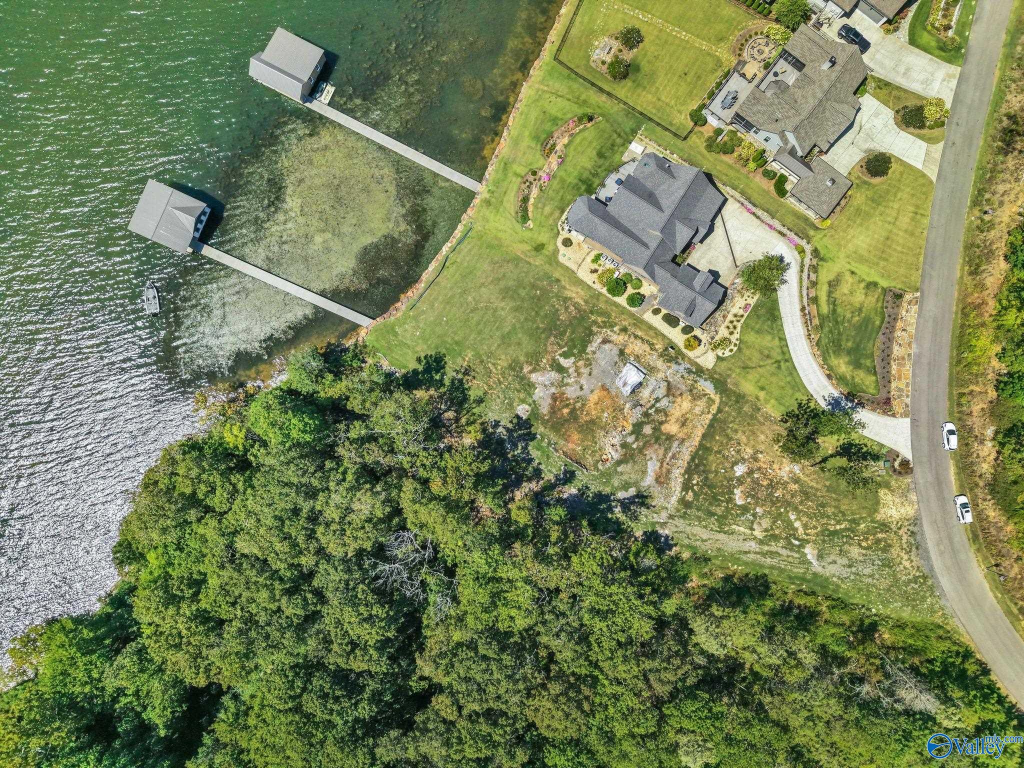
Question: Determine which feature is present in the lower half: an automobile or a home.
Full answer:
What appears in the lower half is an automobile.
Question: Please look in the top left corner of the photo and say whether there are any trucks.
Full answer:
No, no truck appears in the top left corner of the photo.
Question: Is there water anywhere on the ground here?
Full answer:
Yes, some water is visible.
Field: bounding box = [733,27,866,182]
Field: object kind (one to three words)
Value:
house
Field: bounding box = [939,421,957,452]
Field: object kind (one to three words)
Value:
car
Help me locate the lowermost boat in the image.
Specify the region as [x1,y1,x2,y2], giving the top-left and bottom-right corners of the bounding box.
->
[145,281,160,319]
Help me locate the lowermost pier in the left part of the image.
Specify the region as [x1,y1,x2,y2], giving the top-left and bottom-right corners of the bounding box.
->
[200,245,374,328]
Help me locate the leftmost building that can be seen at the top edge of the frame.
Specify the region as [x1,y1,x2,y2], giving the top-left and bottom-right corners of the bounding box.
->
[246,27,333,105]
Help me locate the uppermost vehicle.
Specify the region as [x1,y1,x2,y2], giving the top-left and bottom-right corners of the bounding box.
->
[833,23,871,57]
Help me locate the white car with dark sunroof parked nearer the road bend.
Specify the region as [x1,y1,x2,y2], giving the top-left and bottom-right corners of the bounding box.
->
[952,494,972,526]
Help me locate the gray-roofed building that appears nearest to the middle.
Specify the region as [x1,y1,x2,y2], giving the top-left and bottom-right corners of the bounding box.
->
[566,151,726,327]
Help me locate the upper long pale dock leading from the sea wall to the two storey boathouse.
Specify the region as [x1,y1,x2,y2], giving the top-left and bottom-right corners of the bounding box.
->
[307,100,478,192]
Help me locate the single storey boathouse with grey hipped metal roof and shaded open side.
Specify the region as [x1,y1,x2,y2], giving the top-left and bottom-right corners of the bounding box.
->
[128,181,214,254]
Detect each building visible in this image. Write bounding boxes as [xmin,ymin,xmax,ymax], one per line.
[566,151,726,327]
[733,27,866,182]
[128,181,214,254]
[832,0,907,24]
[246,27,333,105]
